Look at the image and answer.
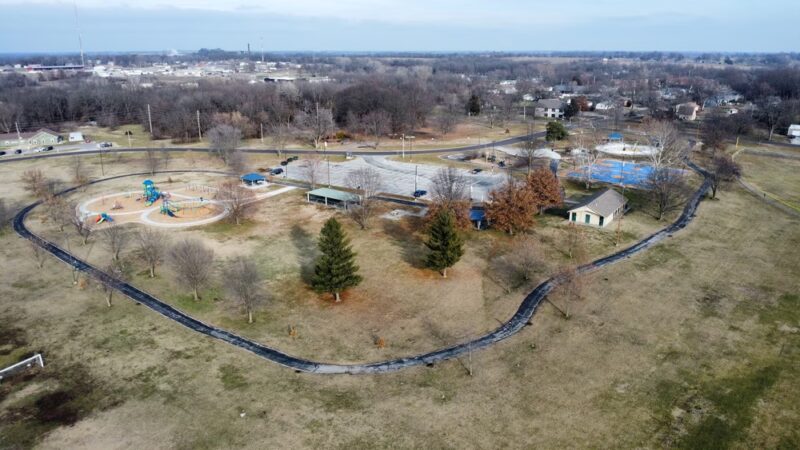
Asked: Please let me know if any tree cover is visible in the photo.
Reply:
Yes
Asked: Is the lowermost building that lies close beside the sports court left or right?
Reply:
right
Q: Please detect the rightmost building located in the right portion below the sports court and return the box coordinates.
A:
[562,188,639,230]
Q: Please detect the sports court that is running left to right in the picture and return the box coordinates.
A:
[566,160,691,190]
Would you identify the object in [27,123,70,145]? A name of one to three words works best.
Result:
building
